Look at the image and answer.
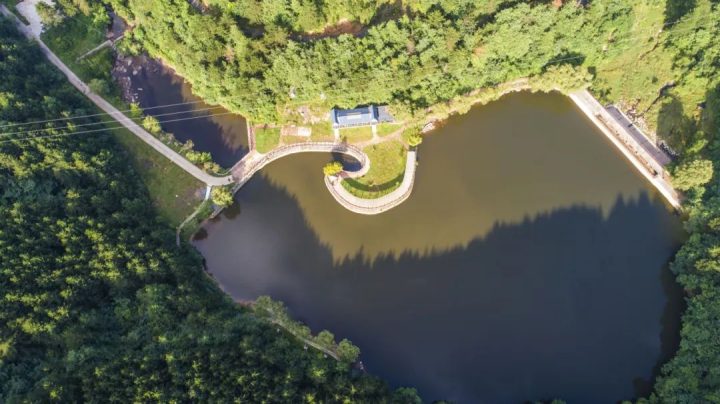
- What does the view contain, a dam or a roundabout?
dam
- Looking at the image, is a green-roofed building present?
No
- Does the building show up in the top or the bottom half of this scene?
top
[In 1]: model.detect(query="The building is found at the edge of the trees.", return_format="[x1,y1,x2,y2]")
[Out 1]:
[329,103,394,131]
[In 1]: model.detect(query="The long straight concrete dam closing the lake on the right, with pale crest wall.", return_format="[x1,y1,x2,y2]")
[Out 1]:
[565,83,693,210]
